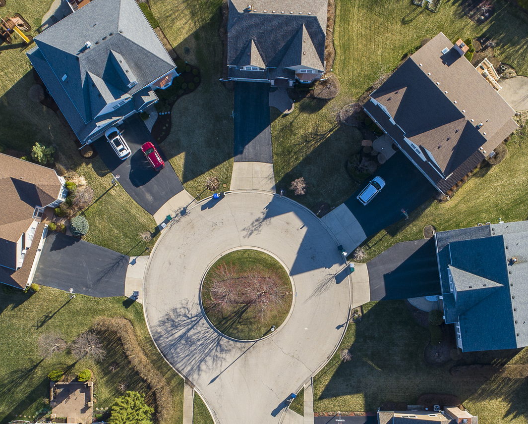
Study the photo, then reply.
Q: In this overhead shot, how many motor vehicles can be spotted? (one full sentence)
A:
There are 3 motor vehicles in the image.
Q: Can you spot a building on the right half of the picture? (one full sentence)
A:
Yes, a building can be seen on the right half of the picture.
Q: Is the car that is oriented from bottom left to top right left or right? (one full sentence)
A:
It is on the right.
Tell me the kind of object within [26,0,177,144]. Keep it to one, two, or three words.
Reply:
house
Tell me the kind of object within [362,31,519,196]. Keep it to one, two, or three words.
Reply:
house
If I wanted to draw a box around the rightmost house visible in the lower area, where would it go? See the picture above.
[434,220,528,352]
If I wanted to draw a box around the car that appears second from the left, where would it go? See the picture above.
[141,139,164,173]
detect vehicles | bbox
[104,125,131,162]
[141,139,164,173]
[357,173,385,208]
